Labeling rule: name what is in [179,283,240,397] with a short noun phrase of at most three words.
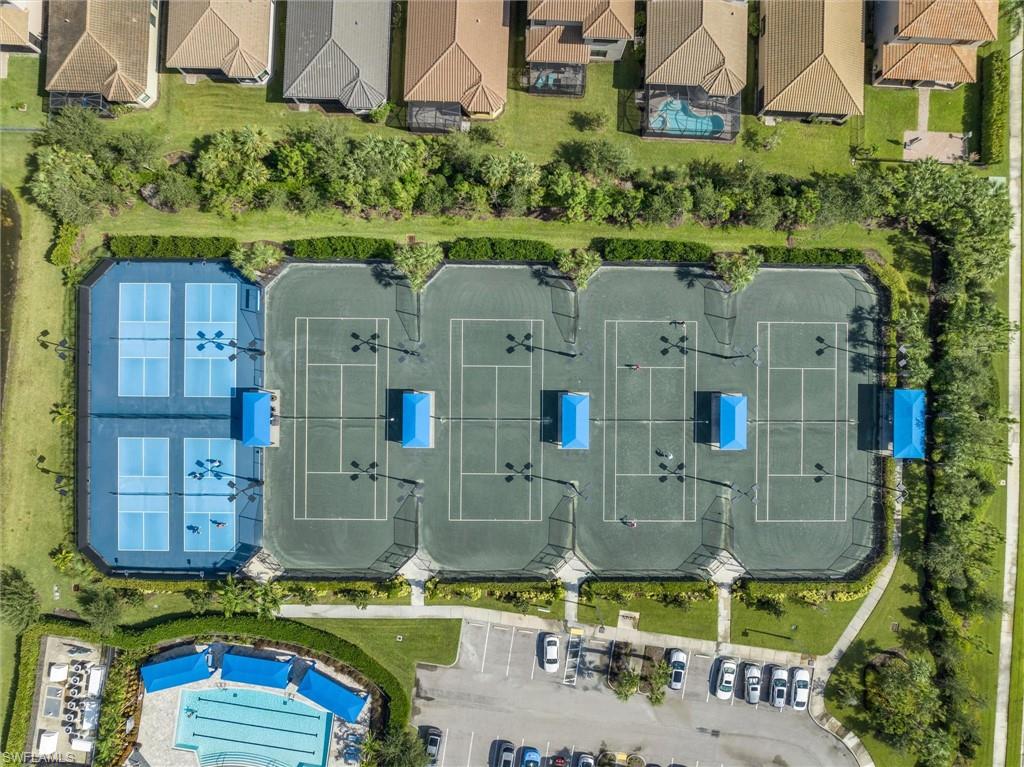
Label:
sports court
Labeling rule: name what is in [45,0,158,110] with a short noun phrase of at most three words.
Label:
house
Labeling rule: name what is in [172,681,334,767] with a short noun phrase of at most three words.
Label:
swimming pool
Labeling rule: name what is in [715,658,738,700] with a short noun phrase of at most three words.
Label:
car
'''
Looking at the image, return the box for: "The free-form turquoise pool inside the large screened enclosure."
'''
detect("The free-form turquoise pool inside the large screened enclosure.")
[649,97,725,135]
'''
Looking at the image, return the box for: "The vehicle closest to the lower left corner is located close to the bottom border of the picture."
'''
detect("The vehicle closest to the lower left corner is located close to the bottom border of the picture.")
[423,728,443,767]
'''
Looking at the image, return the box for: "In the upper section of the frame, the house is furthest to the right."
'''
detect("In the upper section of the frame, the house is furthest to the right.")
[873,0,998,87]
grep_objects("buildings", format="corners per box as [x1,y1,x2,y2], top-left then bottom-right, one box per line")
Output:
[645,0,746,105]
[525,0,634,71]
[284,0,390,118]
[45,0,158,110]
[0,0,41,53]
[165,0,275,88]
[757,0,865,120]
[873,0,998,87]
[405,0,507,121]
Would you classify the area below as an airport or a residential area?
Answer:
residential area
